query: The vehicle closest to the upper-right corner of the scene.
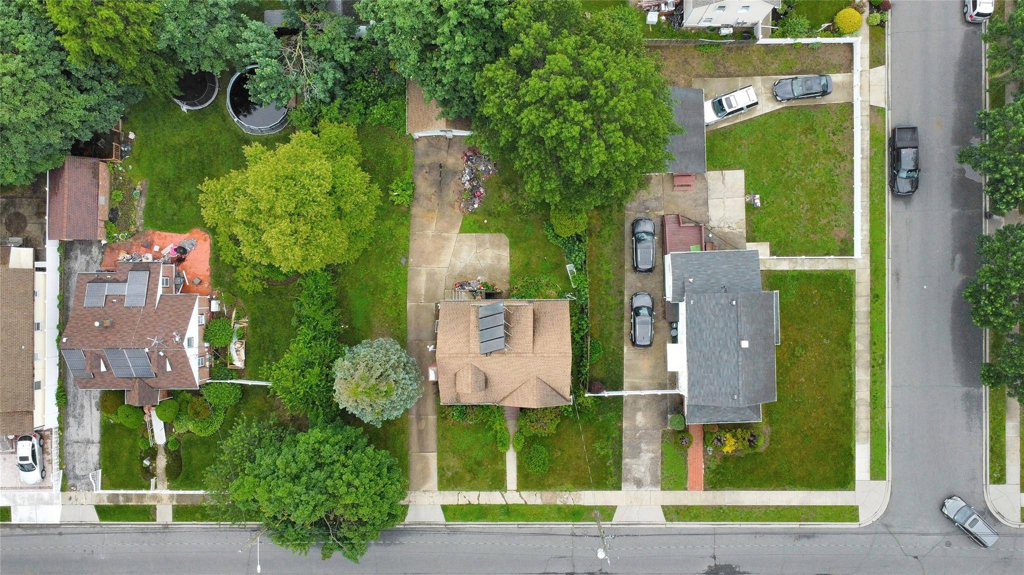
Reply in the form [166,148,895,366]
[959,0,992,27]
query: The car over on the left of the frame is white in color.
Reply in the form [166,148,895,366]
[17,431,50,486]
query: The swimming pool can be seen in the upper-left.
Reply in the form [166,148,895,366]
[227,69,293,133]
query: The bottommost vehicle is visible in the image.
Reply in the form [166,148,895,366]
[937,492,1001,548]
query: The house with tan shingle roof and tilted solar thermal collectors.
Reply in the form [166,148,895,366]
[429,299,574,409]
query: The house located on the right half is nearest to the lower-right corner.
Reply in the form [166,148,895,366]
[659,249,782,424]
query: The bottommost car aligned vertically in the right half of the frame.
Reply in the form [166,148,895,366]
[629,292,656,349]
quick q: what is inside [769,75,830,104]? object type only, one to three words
car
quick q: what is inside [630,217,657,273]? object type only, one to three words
car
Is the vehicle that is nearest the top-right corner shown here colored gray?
Yes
